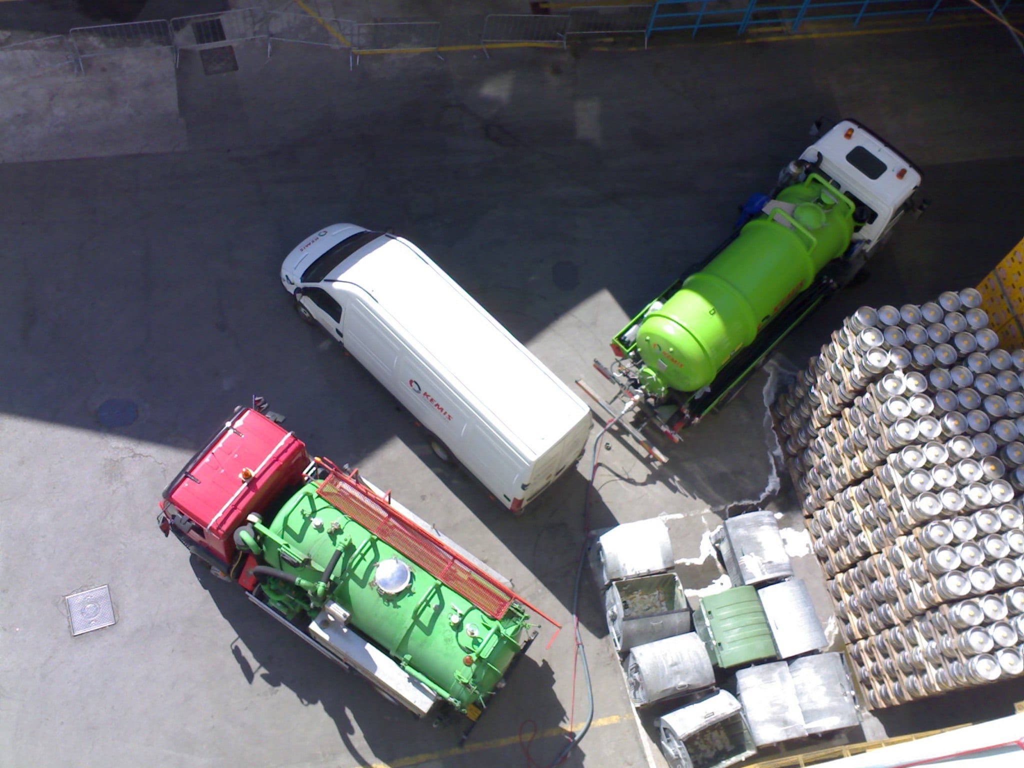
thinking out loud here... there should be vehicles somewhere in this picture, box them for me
[572,116,928,465]
[147,395,563,748]
[283,221,595,507]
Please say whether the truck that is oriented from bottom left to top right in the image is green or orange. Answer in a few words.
green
